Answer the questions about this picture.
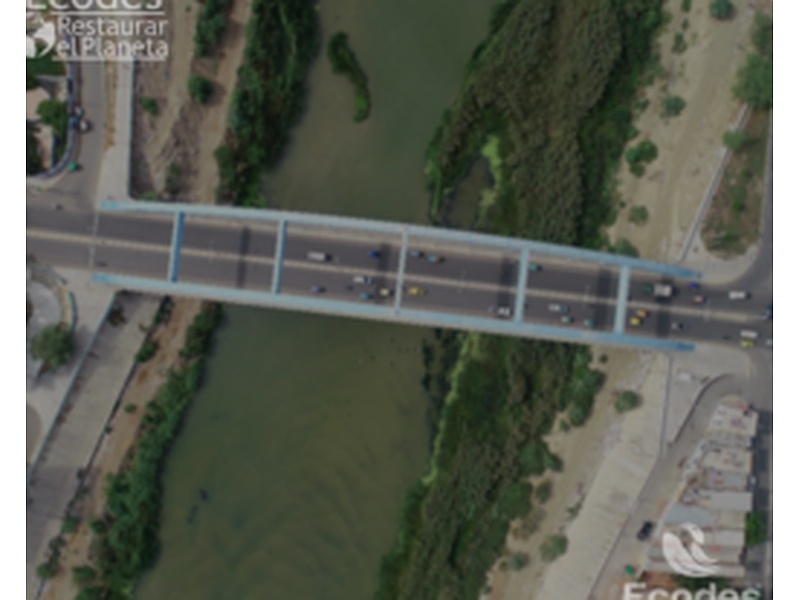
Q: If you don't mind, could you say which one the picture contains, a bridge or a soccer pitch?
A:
bridge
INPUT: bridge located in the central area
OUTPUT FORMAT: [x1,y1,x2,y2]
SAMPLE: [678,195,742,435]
[93,198,702,355]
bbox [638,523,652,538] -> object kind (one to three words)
car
